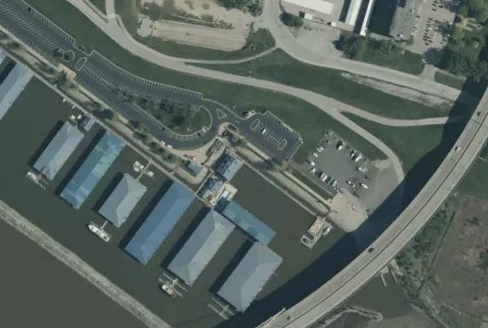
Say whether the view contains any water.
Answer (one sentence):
Yes, water shows up in the scene.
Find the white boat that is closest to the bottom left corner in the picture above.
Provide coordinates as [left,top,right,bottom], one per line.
[91,227,110,241]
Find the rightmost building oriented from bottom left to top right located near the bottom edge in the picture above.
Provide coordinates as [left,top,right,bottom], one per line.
[217,241,284,313]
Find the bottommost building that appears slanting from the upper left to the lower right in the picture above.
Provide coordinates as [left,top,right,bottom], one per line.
[222,199,277,245]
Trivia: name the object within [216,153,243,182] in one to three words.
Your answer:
building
